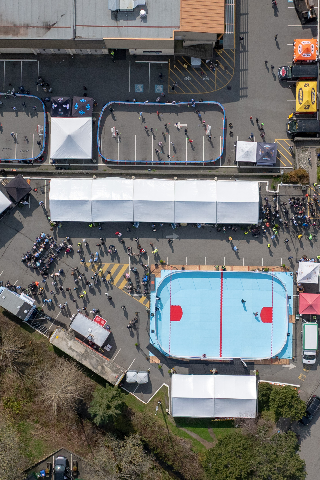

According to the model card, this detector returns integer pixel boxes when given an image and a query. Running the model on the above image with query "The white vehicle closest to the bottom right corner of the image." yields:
[300,322,318,361]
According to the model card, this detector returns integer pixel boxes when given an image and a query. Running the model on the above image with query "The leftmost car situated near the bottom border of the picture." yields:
[52,455,69,480]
